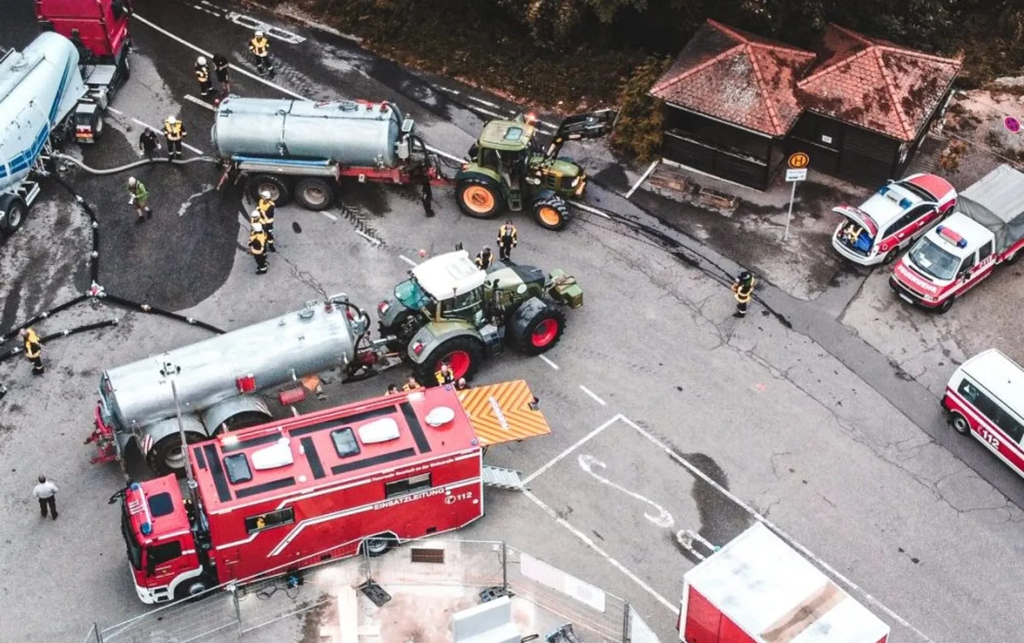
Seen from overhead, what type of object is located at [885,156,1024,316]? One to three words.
truck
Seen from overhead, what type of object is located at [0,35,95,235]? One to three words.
trailer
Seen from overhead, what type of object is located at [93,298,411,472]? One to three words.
trailer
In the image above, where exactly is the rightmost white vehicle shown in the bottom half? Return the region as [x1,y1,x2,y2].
[940,345,1024,478]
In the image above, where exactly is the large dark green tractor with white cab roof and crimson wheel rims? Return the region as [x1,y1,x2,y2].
[378,236,585,386]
